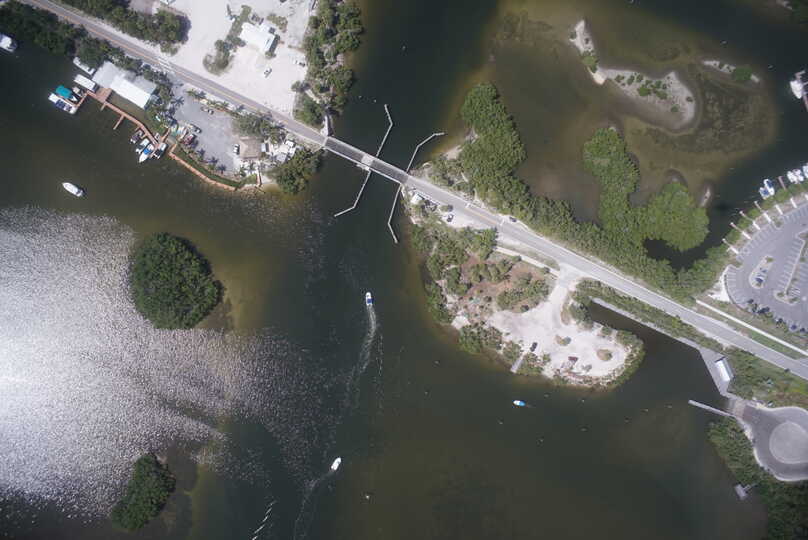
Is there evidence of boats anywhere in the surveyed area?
Yes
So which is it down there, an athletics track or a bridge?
bridge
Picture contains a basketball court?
No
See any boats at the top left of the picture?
Yes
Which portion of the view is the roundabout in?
bottom right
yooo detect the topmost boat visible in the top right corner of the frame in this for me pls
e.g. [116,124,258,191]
[789,81,807,102]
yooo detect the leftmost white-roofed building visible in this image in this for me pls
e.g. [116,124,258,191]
[94,60,157,109]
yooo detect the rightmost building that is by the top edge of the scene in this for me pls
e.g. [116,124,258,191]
[240,23,275,51]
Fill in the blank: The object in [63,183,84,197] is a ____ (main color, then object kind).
white boat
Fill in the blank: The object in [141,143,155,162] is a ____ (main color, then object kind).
white boat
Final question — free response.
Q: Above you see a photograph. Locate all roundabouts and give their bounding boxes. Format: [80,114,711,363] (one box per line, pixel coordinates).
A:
[743,400,808,482]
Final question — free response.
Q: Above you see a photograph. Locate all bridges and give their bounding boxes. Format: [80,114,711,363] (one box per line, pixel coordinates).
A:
[324,134,407,186]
